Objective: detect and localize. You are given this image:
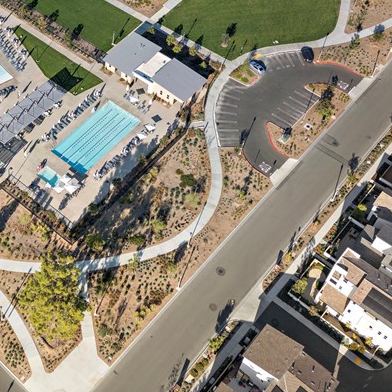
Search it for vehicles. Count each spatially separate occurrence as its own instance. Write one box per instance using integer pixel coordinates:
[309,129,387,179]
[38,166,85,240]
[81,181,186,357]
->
[251,59,267,72]
[303,45,313,59]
